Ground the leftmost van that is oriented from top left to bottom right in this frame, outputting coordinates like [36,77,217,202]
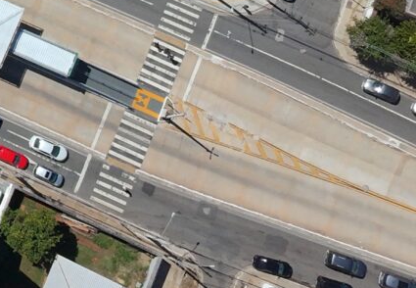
[0,143,32,173]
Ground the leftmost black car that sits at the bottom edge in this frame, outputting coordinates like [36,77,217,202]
[249,252,294,283]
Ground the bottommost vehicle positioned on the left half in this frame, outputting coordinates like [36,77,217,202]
[31,162,67,191]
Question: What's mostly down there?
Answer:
paved ground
